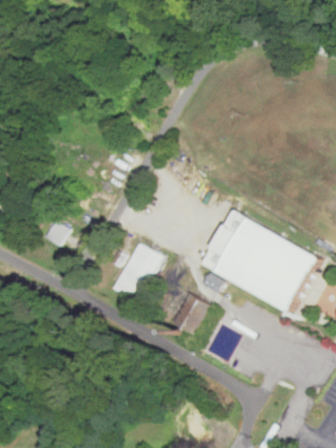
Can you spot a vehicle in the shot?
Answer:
Yes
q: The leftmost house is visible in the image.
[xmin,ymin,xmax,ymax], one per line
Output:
[46,220,74,248]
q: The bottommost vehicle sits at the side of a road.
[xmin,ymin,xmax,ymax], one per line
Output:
[261,424,279,448]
